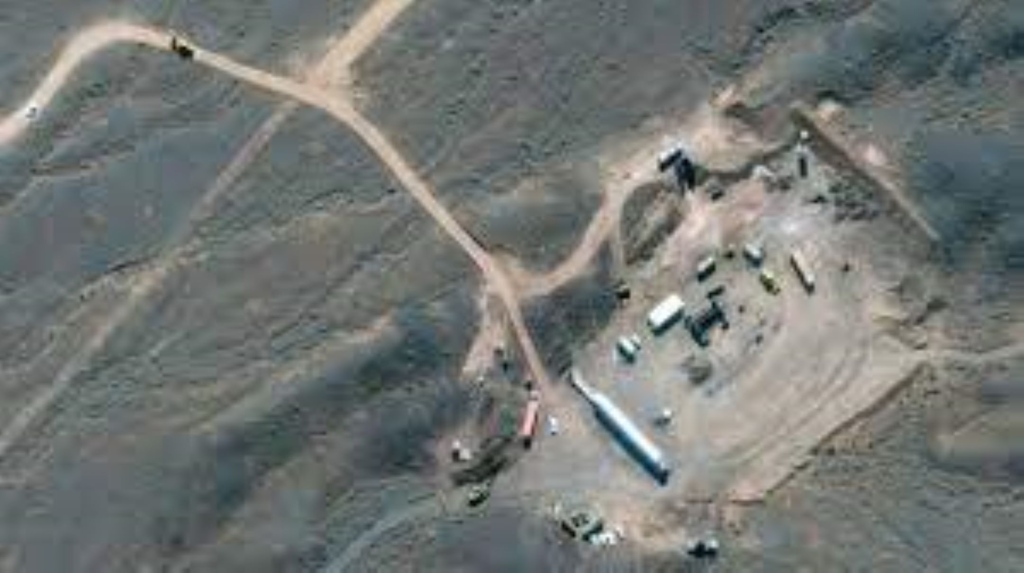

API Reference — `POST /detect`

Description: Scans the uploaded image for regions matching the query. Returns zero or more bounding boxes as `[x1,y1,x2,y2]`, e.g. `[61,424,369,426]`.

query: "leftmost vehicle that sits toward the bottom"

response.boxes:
[465,486,486,503]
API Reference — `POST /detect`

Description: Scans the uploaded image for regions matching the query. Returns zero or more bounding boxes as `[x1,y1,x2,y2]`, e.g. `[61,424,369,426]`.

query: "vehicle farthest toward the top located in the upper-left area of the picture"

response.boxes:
[171,38,195,56]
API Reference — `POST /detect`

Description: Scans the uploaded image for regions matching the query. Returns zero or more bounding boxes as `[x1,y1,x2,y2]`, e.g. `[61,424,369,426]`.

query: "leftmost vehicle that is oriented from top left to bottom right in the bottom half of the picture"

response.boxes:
[616,336,636,358]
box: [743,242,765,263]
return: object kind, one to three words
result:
truck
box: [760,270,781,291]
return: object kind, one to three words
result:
work vehicle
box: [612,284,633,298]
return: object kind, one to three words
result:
vehicle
